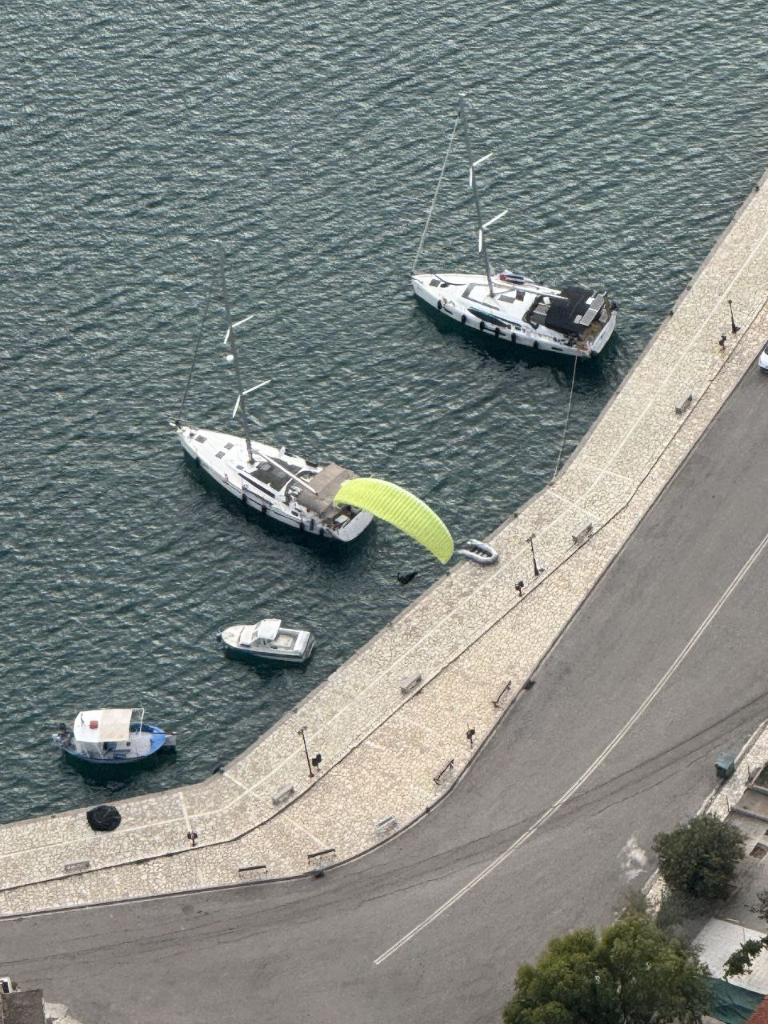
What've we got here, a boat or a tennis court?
boat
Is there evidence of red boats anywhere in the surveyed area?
No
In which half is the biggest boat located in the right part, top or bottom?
top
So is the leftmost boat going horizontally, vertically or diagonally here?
horizontally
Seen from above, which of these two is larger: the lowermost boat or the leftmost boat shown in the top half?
the leftmost boat shown in the top half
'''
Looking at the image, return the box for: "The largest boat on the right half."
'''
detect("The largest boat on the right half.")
[409,87,620,362]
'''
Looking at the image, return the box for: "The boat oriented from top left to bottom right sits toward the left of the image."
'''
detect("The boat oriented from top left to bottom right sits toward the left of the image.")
[175,235,375,549]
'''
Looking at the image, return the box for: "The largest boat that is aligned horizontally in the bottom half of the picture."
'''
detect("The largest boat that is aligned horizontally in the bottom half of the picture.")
[59,705,183,758]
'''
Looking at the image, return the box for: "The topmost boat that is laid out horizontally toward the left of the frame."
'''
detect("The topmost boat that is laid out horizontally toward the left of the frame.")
[218,616,321,662]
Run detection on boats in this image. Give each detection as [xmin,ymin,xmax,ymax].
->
[59,705,183,758]
[218,616,321,662]
[409,87,620,362]
[175,235,375,549]
[456,535,498,562]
